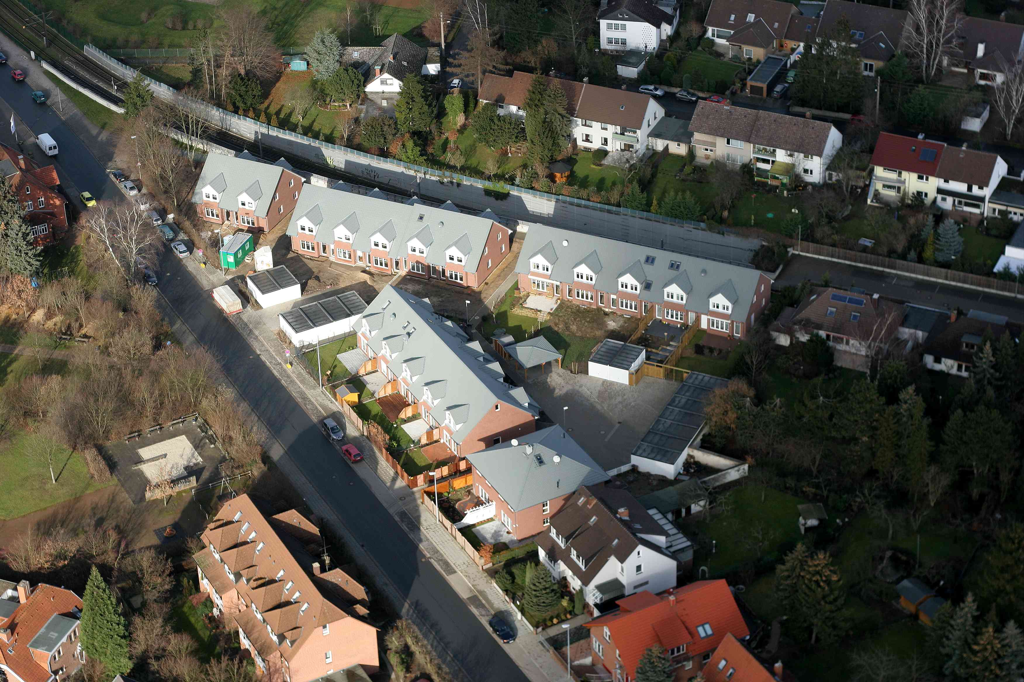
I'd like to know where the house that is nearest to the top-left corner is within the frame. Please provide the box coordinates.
[0,157,67,245]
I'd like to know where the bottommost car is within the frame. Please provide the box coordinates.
[488,618,517,646]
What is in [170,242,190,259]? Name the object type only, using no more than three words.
car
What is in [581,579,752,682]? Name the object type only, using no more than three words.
house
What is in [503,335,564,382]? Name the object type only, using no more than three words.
building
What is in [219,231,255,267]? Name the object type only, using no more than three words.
shipping container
